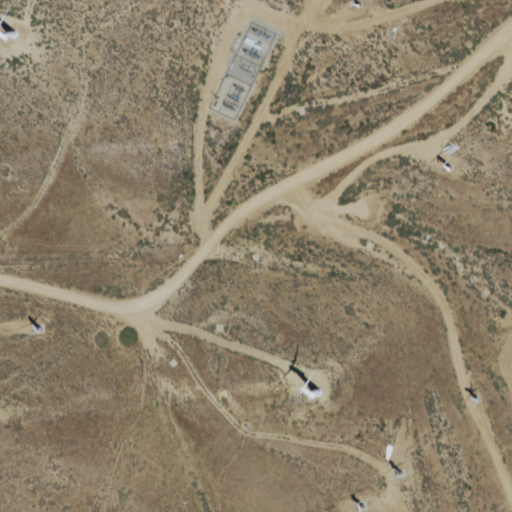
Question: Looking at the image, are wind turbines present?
Yes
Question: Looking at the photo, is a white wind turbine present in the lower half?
Yes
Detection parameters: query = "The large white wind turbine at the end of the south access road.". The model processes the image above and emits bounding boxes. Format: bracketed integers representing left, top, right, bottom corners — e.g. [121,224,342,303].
[289,374,323,410]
